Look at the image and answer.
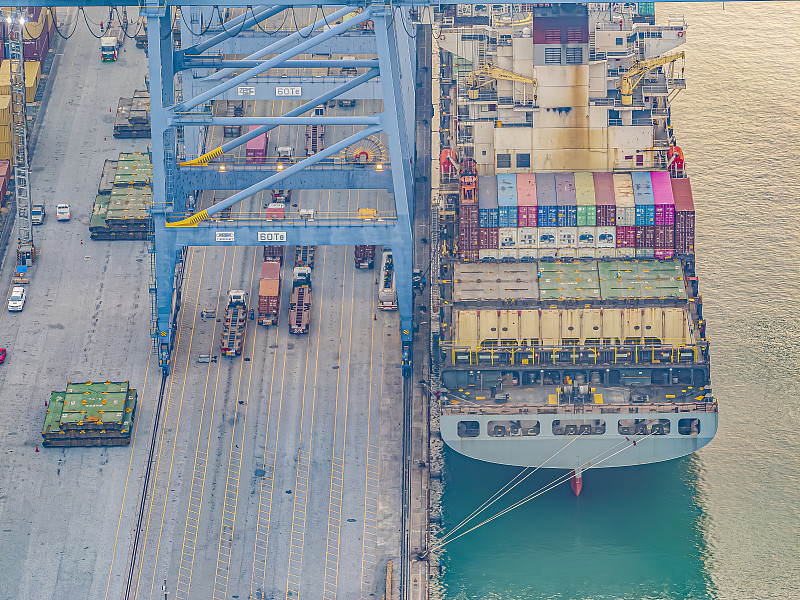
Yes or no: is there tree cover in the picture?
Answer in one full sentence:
No, there is no tree cover in the image.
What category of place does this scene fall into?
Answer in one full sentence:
The area seen from above is a port.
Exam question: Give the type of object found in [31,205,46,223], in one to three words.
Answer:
car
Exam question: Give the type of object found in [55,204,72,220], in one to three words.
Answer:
car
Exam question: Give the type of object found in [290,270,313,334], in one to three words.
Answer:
truck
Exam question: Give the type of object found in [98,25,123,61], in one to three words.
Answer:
truck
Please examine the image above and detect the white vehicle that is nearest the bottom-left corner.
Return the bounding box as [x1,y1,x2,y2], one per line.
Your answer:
[7,290,24,310]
